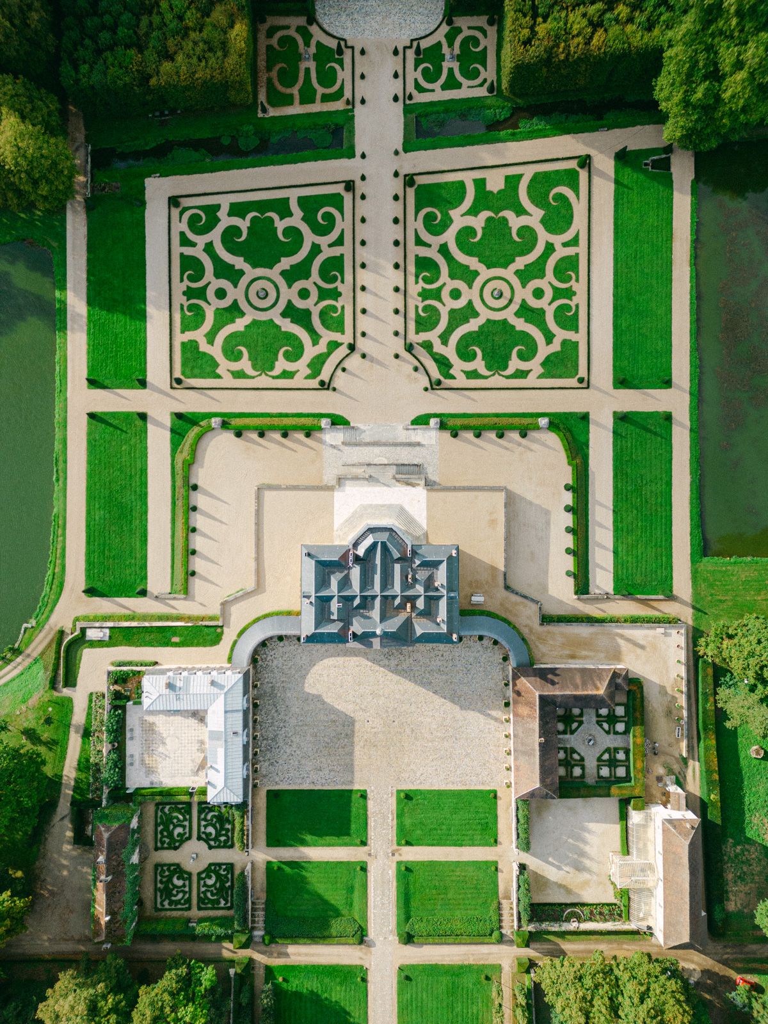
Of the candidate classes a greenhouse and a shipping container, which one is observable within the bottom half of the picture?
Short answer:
greenhouse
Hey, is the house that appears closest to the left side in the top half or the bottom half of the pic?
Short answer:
bottom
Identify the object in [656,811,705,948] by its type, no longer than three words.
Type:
barn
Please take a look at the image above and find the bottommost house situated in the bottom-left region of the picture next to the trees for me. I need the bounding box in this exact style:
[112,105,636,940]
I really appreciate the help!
[88,800,142,948]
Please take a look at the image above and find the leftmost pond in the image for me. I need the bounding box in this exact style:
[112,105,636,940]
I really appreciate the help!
[0,239,56,645]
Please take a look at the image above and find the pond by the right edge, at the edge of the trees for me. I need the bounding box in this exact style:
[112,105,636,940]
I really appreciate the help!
[695,143,768,555]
